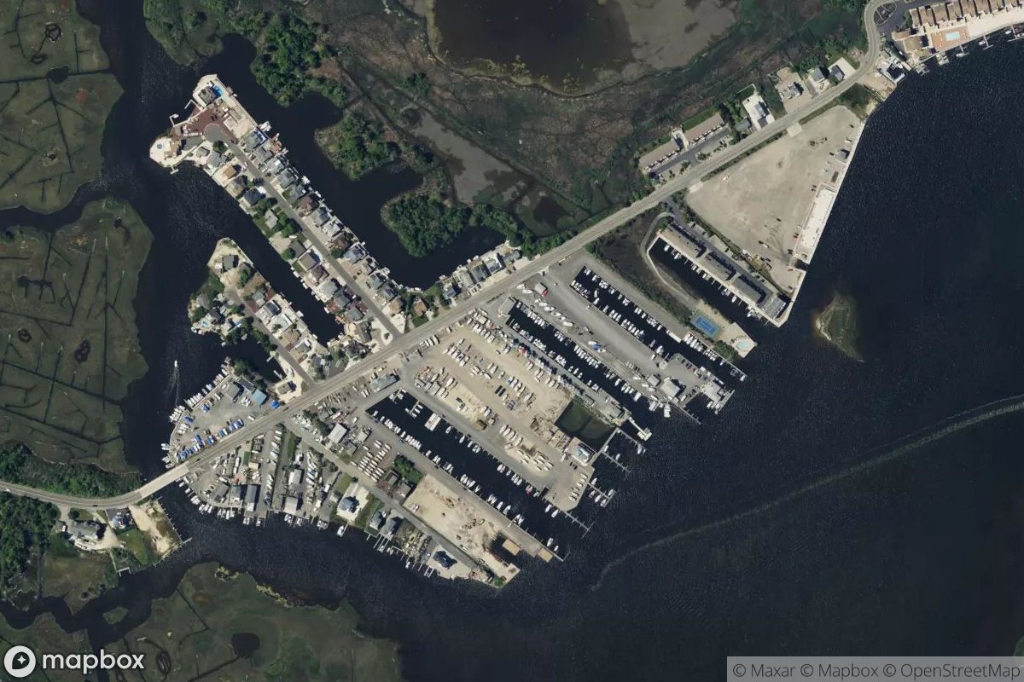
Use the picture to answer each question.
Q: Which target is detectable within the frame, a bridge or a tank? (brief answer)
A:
bridge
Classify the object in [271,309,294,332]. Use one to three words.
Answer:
house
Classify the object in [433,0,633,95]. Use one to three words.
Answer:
pond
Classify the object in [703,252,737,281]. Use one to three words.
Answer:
building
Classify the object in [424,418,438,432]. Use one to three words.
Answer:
ship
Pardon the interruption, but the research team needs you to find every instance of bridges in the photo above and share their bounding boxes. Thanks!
[139,462,192,499]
